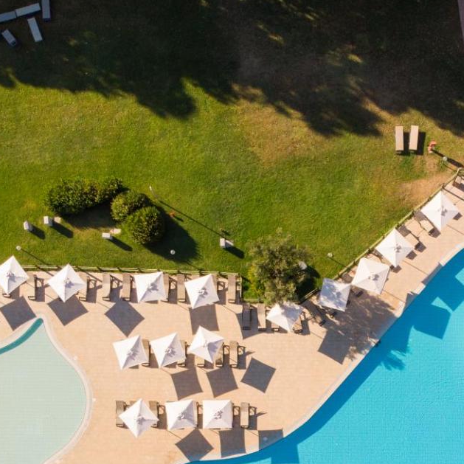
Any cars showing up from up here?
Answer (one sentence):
No, there's no car here.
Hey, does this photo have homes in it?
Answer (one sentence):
No, the photo shows no home.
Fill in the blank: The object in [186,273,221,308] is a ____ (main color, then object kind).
white umbrella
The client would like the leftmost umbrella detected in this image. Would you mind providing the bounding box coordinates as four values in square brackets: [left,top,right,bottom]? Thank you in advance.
[0,254,30,294]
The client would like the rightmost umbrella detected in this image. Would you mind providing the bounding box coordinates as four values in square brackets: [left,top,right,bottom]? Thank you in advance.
[421,190,461,229]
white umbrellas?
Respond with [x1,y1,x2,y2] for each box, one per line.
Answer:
[188,327,224,363]
[47,265,86,303]
[135,272,166,302]
[352,257,388,294]
[119,398,159,437]
[203,399,231,428]
[267,300,304,333]
[112,334,148,371]
[164,399,195,430]
[421,190,461,229]
[151,332,185,366]
[0,254,30,294]
[377,228,415,268]
[186,273,221,308]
